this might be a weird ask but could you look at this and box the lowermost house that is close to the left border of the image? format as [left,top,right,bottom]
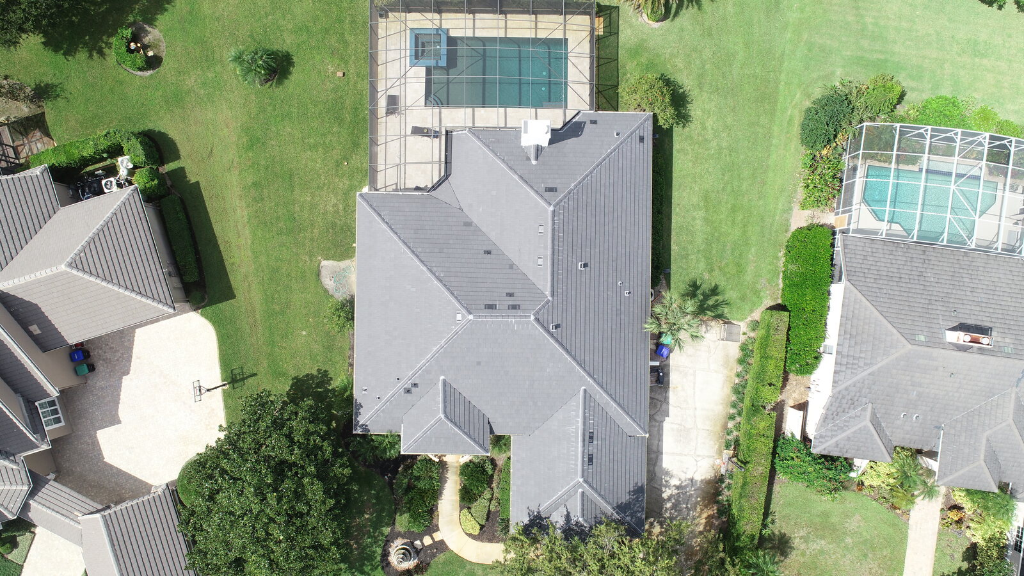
[0,163,206,576]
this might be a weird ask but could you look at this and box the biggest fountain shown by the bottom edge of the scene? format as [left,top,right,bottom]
[386,539,418,572]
